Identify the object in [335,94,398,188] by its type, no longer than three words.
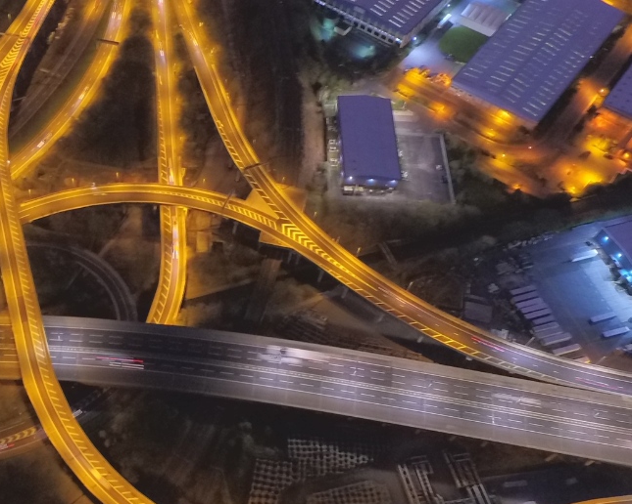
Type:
building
